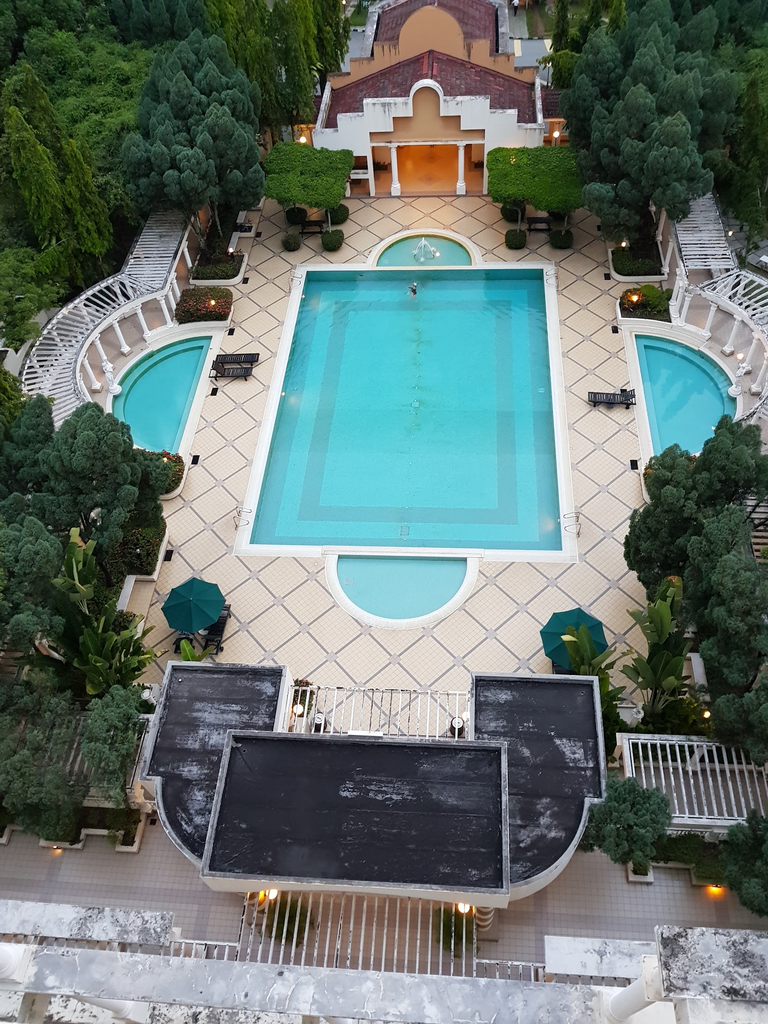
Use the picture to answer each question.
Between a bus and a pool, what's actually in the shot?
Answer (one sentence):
I can see a pool in this picture.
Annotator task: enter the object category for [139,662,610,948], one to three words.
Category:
building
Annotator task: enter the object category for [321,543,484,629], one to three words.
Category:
swimming pool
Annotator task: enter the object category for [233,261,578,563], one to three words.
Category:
swimming pool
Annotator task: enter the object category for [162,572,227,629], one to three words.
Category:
umbrella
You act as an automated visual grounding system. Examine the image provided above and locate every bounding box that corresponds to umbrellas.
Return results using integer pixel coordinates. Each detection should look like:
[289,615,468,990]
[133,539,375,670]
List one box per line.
[538,605,605,667]
[162,572,227,629]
